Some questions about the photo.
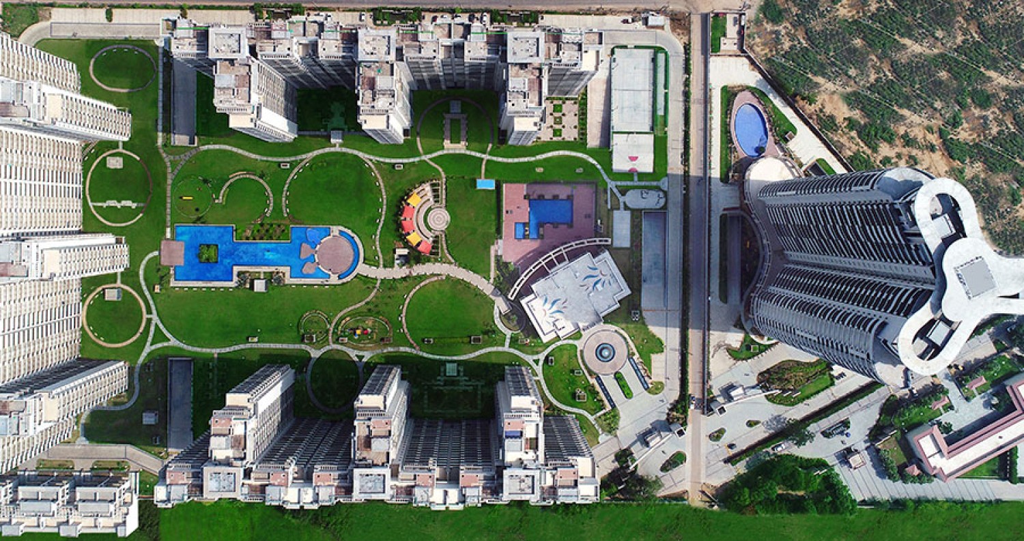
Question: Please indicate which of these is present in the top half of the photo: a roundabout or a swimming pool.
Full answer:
You can see a swimming pool in the top half of the photo.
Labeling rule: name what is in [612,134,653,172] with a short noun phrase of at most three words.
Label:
sports court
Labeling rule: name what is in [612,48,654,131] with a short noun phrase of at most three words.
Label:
sports court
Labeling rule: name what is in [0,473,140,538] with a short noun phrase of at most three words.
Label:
building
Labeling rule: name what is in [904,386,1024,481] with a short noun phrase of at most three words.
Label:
house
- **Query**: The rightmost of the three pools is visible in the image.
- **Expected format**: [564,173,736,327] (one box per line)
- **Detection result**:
[731,91,776,161]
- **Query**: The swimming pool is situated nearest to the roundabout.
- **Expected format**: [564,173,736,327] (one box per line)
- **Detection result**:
[502,182,598,270]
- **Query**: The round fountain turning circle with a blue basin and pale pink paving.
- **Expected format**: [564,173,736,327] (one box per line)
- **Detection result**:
[578,325,632,376]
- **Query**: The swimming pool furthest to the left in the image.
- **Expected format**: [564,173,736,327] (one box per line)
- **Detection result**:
[160,224,365,286]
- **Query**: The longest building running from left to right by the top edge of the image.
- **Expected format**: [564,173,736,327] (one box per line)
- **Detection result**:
[170,17,606,147]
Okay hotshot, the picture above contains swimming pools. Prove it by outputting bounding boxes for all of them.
[160,224,365,286]
[731,91,776,161]
[502,182,598,270]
